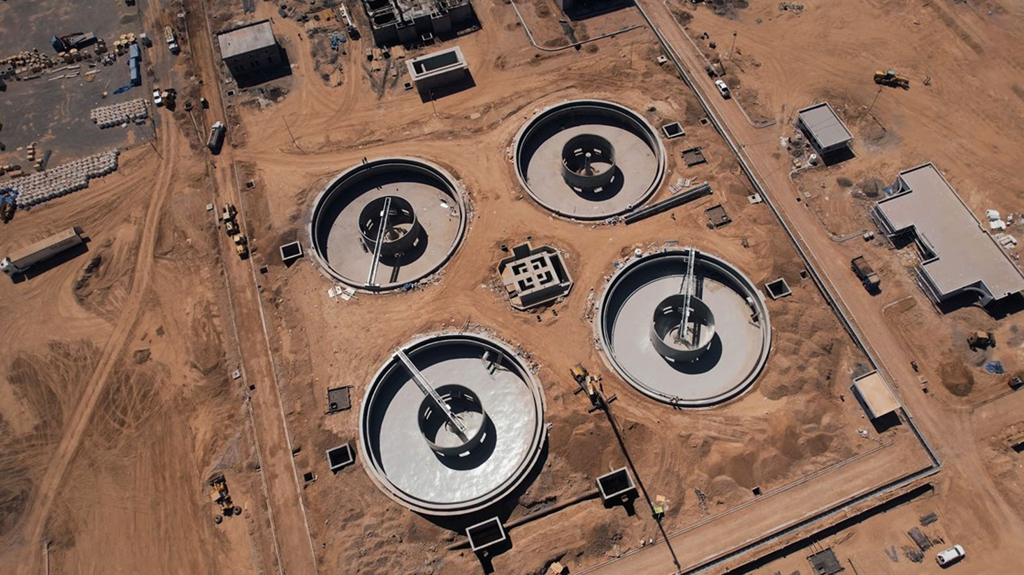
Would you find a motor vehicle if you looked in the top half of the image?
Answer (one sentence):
Yes, a motor vehicle appears in the top half of the image.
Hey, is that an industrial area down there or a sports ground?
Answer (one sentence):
This image shows an industrial area.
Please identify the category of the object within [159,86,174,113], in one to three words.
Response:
work vehicle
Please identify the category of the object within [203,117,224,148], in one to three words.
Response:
truck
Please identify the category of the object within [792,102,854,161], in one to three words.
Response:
building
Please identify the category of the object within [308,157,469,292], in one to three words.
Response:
storage tank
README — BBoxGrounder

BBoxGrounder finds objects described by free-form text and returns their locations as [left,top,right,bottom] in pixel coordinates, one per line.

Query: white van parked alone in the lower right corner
[932,542,970,566]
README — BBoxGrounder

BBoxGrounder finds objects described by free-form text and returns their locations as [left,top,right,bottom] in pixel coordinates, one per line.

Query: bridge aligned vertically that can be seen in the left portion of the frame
[363,196,395,288]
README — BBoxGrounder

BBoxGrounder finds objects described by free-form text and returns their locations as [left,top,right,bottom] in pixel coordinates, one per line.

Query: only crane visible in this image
[571,360,624,440]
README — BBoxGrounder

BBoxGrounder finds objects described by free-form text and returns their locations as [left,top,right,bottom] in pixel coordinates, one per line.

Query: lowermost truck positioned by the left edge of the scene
[0,224,91,278]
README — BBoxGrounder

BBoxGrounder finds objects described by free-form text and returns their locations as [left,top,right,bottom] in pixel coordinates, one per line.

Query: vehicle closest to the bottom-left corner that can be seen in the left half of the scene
[210,475,231,514]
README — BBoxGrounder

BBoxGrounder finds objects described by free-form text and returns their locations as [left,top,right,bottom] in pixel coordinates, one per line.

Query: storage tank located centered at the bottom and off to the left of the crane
[355,333,548,519]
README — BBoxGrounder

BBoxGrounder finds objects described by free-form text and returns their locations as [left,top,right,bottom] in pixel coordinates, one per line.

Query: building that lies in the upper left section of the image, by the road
[217,19,284,78]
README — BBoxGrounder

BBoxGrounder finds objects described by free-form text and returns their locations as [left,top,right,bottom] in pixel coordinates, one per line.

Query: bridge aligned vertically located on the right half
[679,244,701,338]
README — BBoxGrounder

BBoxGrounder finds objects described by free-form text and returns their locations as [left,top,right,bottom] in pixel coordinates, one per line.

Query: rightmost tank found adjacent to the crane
[594,244,774,409]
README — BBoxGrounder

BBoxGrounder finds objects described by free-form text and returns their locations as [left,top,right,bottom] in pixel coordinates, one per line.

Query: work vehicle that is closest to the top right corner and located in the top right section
[877,65,914,89]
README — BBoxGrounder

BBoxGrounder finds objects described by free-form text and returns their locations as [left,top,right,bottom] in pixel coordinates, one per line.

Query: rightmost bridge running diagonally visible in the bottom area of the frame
[390,345,466,432]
